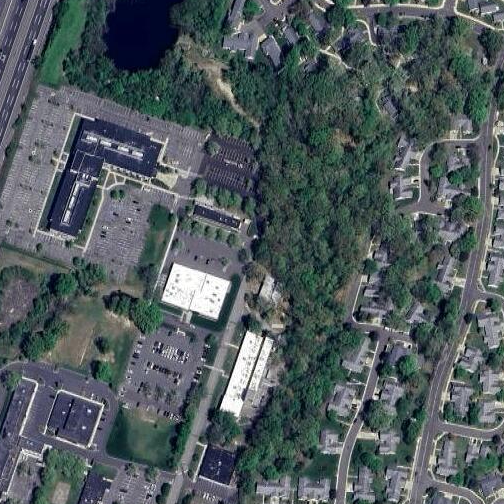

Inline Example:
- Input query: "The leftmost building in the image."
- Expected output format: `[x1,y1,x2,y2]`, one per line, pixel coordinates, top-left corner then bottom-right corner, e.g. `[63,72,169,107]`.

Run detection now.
[0,381,46,499]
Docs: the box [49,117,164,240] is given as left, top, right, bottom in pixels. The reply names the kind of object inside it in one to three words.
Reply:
building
